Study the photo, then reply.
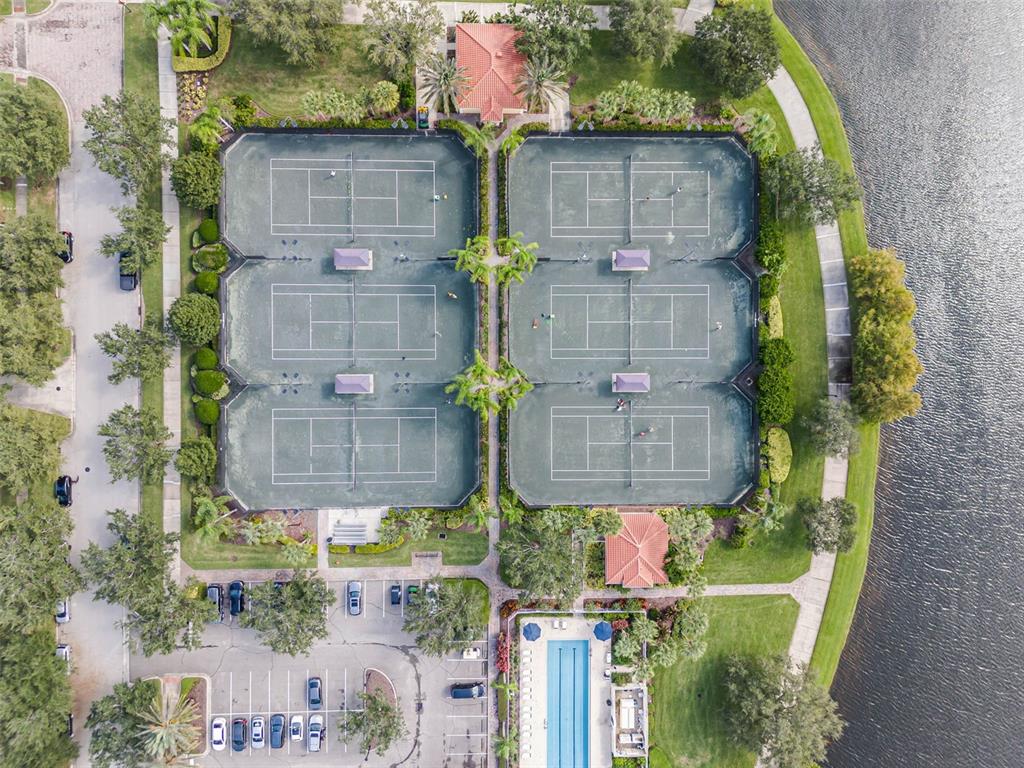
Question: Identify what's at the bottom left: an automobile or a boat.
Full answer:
What appears at the bottom left is an automobile.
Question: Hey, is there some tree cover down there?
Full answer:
Yes, tree cover can be seen from above here.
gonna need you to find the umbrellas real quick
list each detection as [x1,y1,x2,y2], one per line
[594,622,611,639]
[523,623,541,640]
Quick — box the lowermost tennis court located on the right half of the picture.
[509,382,753,505]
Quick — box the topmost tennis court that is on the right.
[509,137,752,260]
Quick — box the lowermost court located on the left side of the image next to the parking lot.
[227,384,477,509]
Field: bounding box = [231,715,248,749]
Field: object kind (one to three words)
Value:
car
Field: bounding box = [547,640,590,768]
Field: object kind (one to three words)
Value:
swimming pool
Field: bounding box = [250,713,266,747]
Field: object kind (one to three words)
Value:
car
